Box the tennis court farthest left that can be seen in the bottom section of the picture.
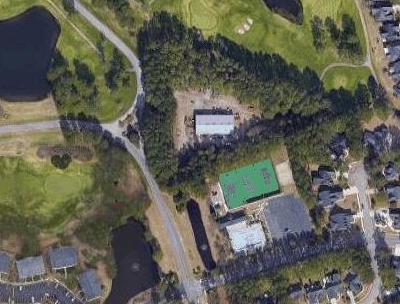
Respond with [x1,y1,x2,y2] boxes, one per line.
[220,170,247,208]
